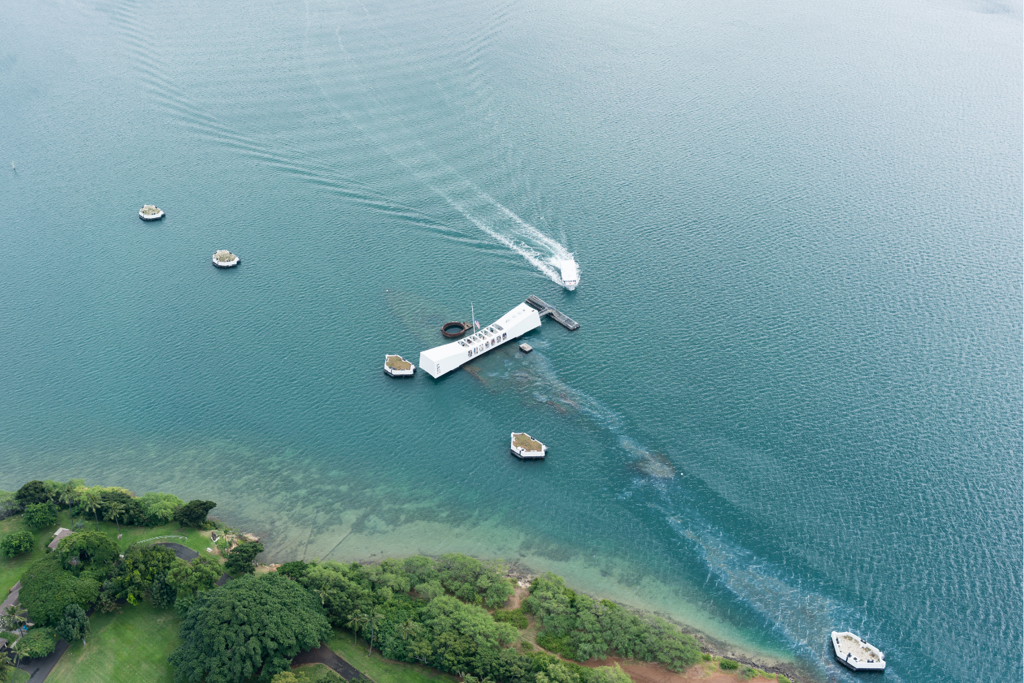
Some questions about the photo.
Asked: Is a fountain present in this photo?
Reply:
No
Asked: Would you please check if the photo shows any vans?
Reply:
No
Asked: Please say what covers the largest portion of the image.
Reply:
water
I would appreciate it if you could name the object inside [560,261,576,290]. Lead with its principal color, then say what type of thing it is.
white boat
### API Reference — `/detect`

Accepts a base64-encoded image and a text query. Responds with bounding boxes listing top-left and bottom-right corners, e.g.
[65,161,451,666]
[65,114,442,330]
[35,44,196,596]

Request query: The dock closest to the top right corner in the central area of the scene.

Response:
[524,294,582,332]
